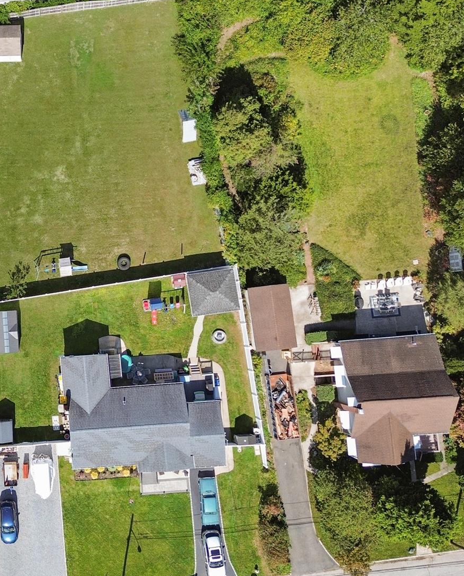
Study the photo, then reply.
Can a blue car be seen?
Yes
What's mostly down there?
grass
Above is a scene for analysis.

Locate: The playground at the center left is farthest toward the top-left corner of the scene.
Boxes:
[37,256,88,278]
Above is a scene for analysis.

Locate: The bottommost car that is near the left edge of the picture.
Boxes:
[0,498,19,542]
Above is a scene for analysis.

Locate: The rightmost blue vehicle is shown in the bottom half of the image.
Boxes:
[198,474,221,525]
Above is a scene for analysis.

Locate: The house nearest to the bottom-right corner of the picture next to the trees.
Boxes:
[328,334,459,468]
